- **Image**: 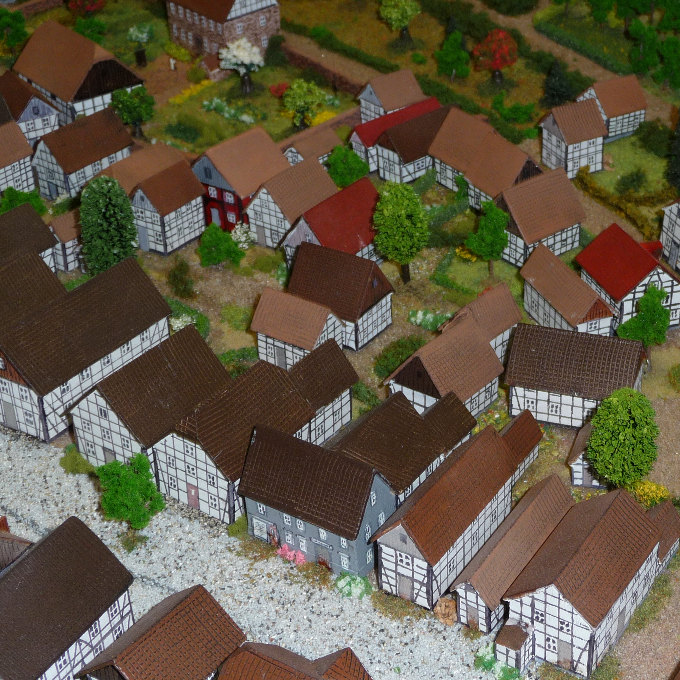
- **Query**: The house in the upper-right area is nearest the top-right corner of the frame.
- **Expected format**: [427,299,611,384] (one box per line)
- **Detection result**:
[577,75,646,143]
